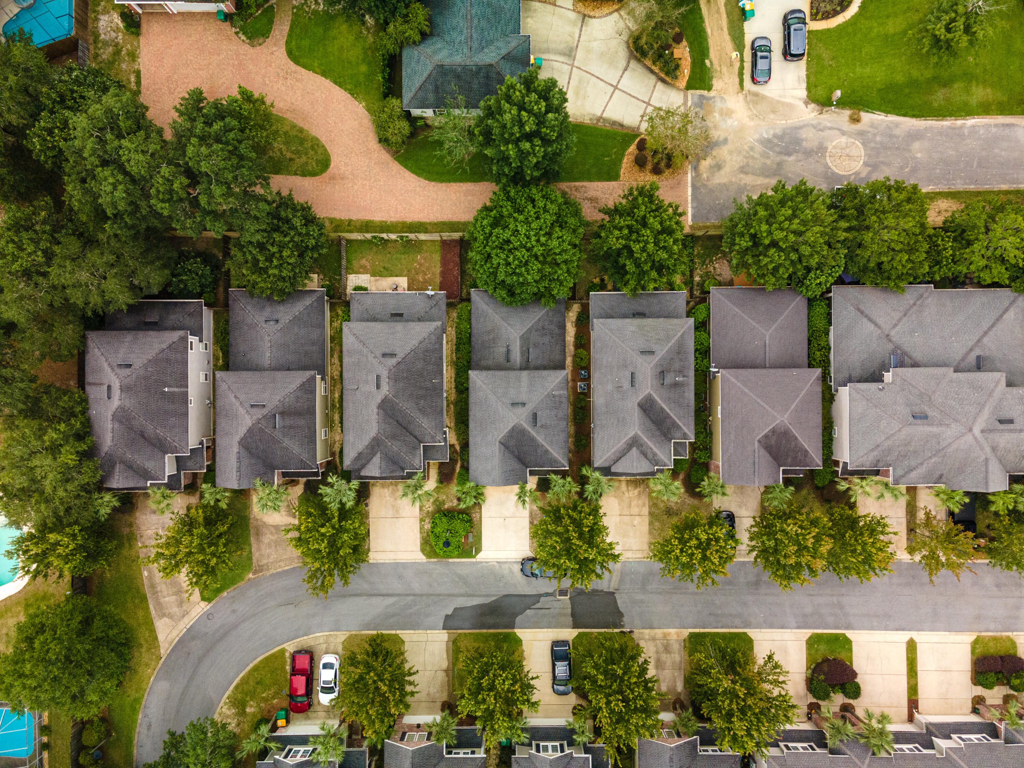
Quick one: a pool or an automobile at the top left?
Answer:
pool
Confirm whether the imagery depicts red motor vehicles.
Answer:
Yes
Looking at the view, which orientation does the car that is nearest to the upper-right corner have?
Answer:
from top to bottom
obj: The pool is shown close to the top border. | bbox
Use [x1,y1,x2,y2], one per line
[6,0,73,43]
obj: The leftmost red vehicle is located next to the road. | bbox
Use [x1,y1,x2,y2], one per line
[287,649,314,713]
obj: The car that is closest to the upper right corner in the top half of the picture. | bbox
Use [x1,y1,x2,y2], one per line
[782,9,810,63]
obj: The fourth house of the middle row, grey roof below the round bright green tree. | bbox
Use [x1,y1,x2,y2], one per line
[468,289,569,486]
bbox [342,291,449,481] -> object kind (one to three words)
house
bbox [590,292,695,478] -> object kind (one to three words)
house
